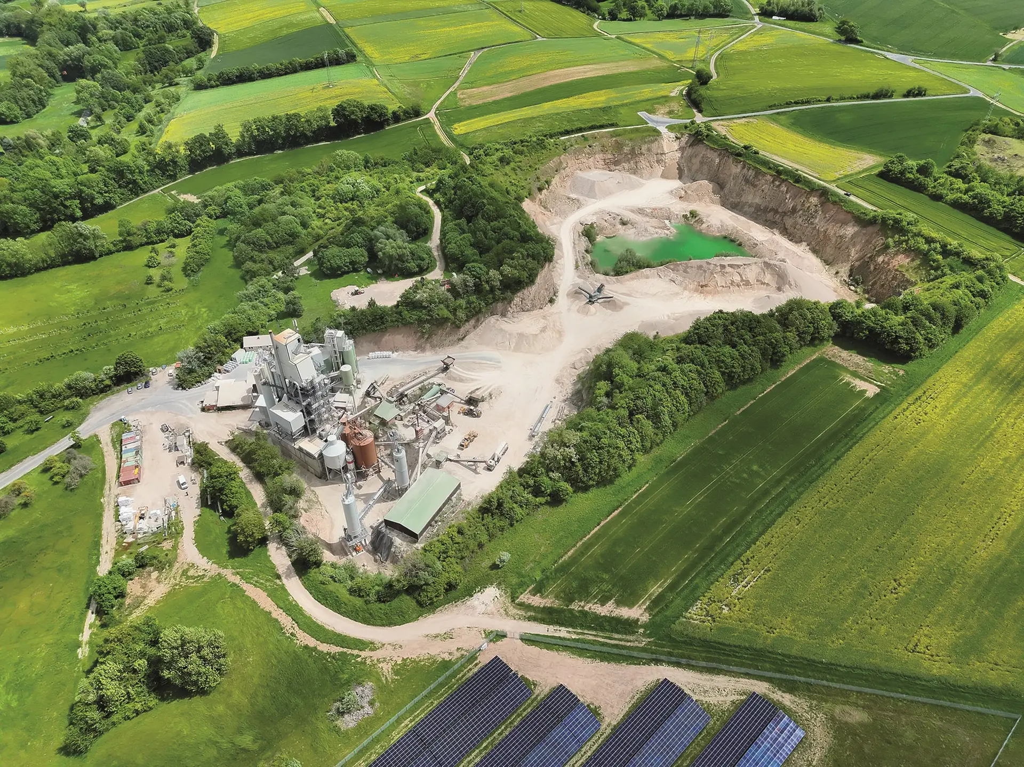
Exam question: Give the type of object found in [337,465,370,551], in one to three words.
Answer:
silo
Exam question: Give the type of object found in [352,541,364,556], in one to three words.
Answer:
vehicle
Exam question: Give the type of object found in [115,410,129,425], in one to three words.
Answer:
vehicle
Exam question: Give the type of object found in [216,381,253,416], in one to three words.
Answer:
building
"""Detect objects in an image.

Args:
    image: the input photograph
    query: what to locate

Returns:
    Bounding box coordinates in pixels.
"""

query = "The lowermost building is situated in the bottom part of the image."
[384,469,461,544]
